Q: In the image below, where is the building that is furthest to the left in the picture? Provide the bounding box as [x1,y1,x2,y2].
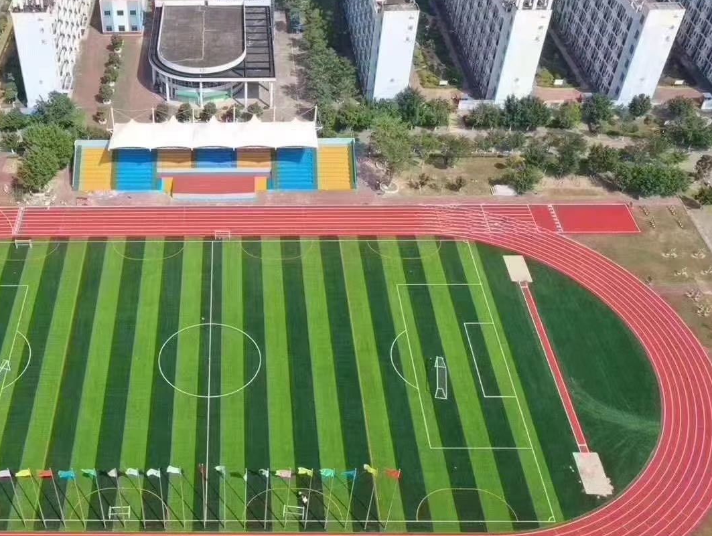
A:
[10,0,99,105]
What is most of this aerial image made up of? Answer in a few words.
grass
